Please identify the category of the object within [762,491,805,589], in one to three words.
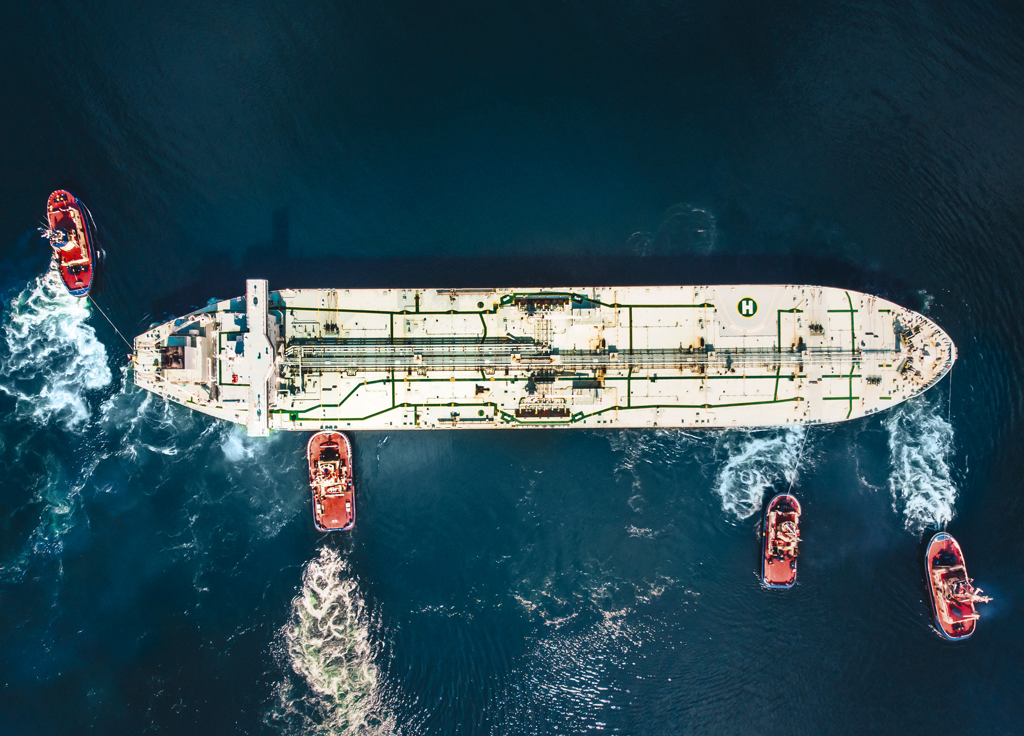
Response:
boat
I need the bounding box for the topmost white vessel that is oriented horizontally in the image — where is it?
[122,279,959,436]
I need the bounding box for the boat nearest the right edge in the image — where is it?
[924,530,986,642]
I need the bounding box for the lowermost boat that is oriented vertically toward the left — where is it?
[307,430,356,532]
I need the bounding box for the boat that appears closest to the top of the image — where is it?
[31,187,96,299]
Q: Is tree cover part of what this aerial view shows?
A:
No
